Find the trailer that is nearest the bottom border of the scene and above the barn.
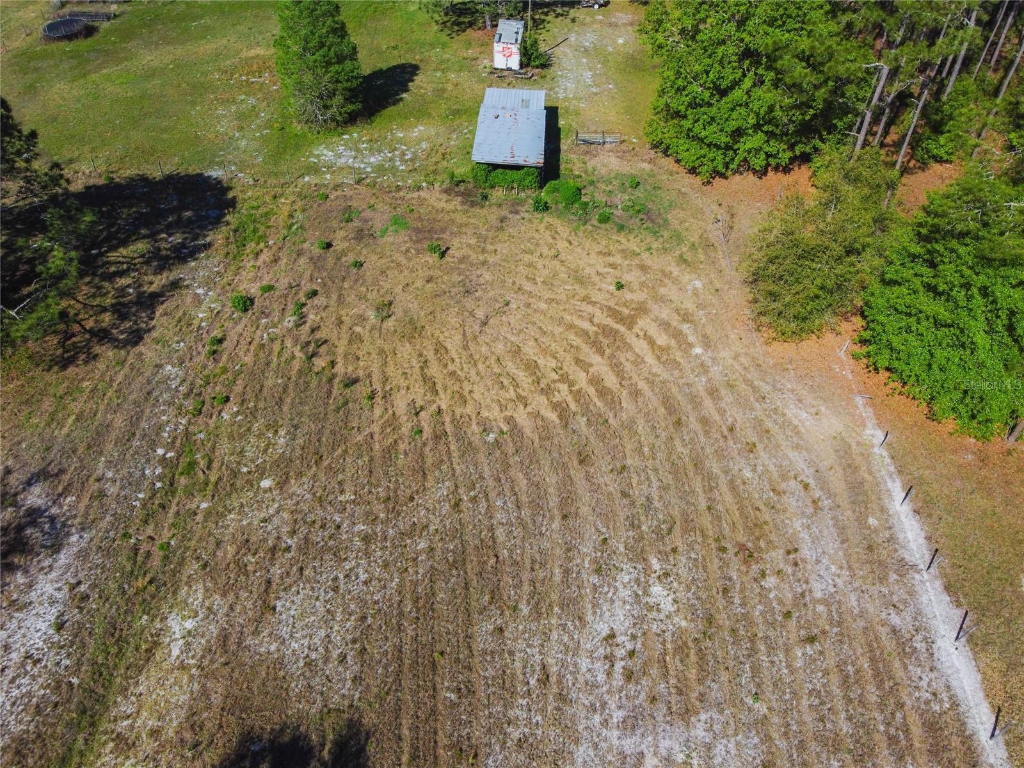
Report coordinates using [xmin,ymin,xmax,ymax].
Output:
[493,19,523,66]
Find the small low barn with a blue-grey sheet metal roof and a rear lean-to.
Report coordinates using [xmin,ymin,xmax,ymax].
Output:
[472,88,545,190]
